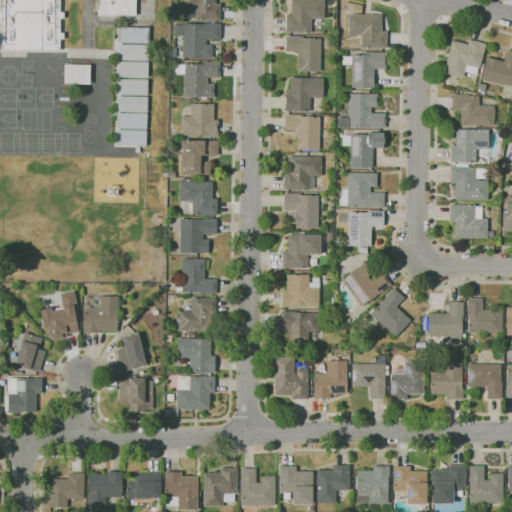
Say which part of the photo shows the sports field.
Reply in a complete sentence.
The sports field is in the left part of the image.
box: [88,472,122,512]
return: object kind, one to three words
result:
house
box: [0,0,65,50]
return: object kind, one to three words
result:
building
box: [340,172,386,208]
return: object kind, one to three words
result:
house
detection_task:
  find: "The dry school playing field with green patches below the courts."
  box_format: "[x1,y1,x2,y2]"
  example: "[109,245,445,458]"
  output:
[0,154,148,280]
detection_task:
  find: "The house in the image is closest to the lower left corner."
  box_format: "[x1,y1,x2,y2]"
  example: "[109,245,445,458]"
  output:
[48,473,84,510]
